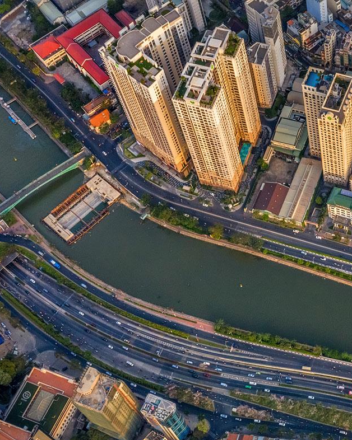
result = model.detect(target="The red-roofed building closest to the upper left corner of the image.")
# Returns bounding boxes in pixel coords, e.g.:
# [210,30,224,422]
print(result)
[30,33,68,69]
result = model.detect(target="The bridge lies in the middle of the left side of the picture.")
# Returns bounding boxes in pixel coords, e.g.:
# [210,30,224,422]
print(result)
[0,151,101,211]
